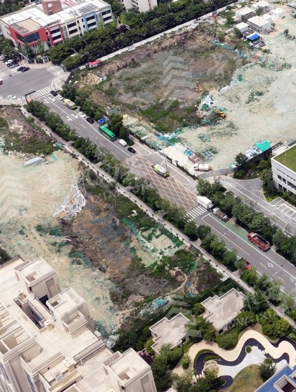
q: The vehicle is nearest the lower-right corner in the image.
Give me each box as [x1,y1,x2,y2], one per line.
[247,228,269,247]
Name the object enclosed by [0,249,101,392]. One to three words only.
building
